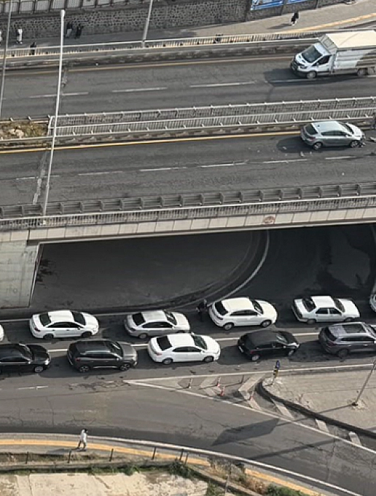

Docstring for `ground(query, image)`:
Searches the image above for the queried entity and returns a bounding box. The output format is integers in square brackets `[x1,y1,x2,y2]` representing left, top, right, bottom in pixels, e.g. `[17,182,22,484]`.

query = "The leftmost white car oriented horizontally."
[28,310,101,343]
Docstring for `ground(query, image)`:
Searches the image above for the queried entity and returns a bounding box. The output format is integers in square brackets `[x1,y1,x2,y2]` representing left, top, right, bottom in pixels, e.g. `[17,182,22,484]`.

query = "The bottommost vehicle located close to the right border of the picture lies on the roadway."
[314,317,376,353]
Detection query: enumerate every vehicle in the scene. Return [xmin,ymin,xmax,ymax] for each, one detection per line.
[208,295,278,331]
[297,121,365,152]
[65,337,138,374]
[366,288,376,314]
[232,325,298,359]
[314,317,376,353]
[0,345,51,378]
[120,304,192,337]
[145,331,222,366]
[290,293,359,324]
[295,26,376,80]
[28,310,101,343]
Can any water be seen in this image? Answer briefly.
No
